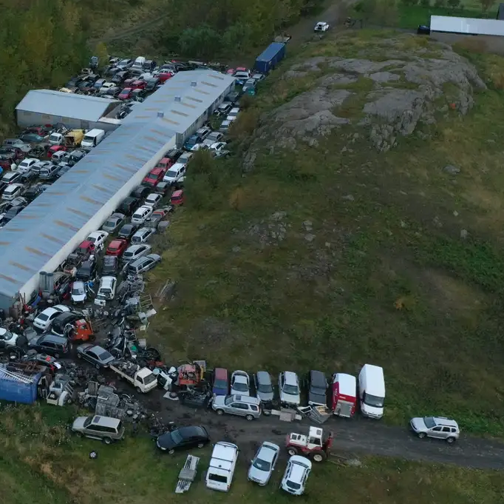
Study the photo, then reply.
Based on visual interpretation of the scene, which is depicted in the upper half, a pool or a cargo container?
cargo container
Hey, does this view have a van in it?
Yes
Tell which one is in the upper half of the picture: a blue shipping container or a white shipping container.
blue shipping container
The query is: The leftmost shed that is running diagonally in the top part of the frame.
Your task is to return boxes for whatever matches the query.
[0,73,225,318]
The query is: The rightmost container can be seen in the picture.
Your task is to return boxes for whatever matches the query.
[255,43,283,72]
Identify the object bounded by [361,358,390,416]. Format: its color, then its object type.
white van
